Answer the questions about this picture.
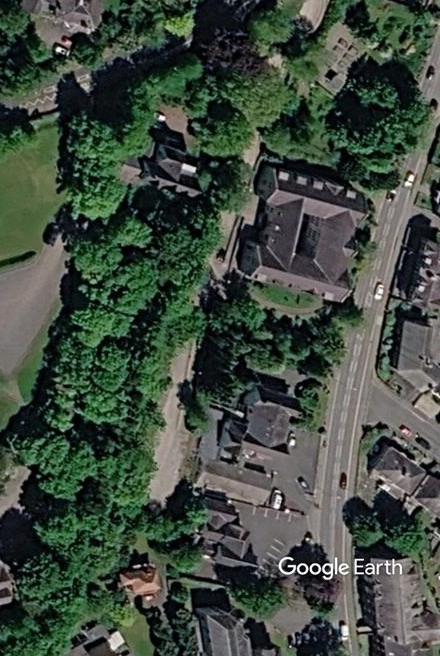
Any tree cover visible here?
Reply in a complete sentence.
Yes, some tree cover is visible.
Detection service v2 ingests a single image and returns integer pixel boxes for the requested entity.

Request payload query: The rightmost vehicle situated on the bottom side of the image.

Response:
[415,436,430,449]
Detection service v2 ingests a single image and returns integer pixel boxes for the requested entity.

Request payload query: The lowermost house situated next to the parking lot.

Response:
[192,604,275,656]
